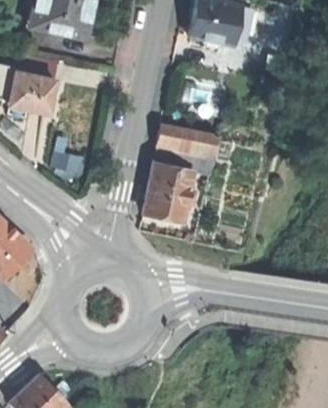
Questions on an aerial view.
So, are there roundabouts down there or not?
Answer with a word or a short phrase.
Yes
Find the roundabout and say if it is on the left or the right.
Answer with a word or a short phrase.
left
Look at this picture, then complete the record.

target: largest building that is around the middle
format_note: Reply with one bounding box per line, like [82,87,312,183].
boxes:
[142,160,201,226]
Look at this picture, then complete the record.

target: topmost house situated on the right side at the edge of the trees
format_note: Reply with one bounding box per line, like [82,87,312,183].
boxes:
[190,0,246,49]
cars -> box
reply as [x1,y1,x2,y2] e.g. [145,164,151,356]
[135,10,146,30]
[64,40,82,50]
[114,110,123,128]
